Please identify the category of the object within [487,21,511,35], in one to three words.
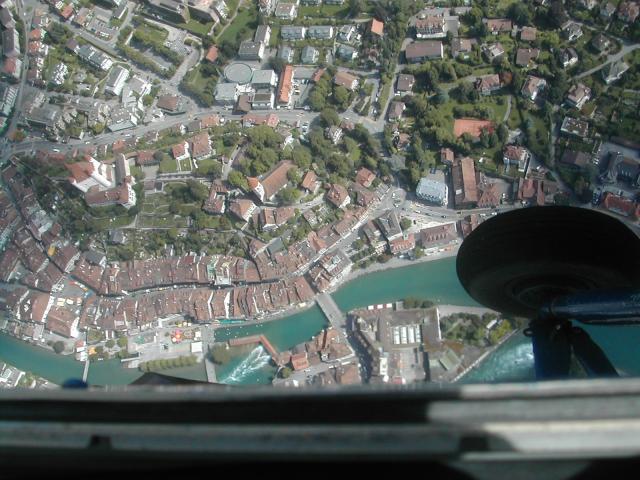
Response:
house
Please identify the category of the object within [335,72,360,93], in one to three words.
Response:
house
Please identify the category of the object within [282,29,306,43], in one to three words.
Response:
building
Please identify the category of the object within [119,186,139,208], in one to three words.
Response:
building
